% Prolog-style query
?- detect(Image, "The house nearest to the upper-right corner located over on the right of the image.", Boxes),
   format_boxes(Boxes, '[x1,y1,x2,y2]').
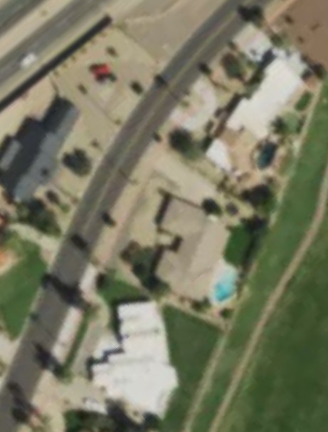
[207,47,307,170]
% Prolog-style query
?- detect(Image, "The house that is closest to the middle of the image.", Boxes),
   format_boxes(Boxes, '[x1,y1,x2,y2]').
[153,194,232,302]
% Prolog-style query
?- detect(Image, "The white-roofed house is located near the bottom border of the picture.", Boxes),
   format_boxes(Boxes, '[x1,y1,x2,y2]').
[91,301,178,419]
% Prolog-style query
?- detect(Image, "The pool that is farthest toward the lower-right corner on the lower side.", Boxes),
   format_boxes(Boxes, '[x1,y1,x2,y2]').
[211,262,237,302]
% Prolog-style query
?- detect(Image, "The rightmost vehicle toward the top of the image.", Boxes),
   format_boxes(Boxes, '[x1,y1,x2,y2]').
[93,63,110,76]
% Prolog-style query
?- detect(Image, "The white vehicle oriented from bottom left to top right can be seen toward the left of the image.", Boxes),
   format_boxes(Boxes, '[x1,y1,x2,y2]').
[21,53,37,68]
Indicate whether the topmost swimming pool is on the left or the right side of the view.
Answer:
right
